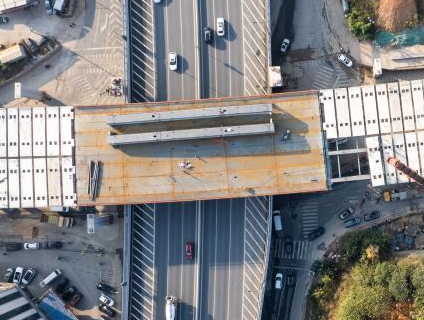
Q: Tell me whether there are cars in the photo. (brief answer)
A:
Yes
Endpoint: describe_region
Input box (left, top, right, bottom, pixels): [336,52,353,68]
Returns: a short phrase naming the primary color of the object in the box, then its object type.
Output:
white car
